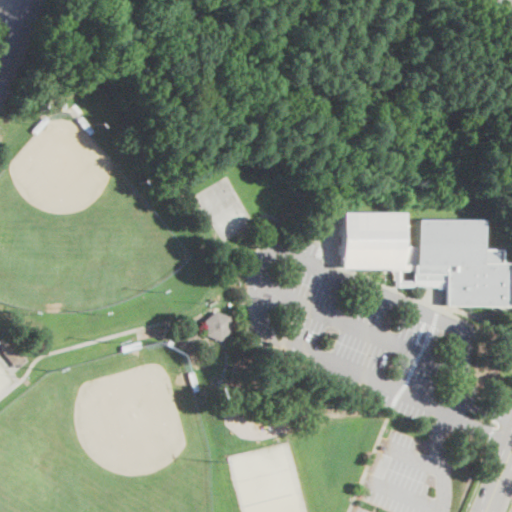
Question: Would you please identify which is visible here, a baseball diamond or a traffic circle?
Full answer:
It is a baseball diamond that can be seen here.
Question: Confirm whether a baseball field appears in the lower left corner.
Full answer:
Yes, looking in the lower left corner, one can make out a baseball field.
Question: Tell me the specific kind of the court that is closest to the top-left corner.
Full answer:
The court that is closest to the top-left corner can be classified as a basketball court.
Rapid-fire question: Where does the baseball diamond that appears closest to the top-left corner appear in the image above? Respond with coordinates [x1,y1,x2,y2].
[0,114,190,313]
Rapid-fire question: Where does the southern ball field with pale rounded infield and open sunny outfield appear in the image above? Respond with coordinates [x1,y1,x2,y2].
[0,346,210,512]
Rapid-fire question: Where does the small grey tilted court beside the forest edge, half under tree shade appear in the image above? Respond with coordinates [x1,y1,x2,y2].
[196,177,251,242]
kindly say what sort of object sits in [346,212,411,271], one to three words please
building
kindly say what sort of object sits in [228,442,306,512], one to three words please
sports court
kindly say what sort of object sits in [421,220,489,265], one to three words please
building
